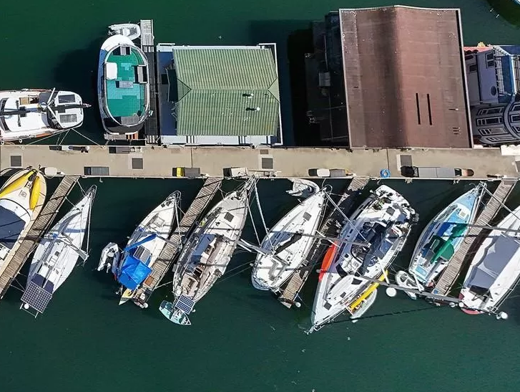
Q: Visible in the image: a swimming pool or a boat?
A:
boat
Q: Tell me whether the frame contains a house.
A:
Yes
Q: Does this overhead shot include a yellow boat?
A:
Yes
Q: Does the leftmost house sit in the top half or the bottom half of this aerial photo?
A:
top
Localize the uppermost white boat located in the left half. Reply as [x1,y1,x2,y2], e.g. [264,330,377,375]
[105,20,141,41]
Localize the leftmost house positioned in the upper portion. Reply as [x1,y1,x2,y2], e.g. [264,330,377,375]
[158,44,297,143]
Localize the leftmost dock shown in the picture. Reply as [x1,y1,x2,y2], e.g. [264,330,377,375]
[0,177,76,304]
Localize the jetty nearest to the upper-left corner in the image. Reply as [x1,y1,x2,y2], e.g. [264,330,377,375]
[138,19,155,143]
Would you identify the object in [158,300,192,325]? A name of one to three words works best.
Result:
boat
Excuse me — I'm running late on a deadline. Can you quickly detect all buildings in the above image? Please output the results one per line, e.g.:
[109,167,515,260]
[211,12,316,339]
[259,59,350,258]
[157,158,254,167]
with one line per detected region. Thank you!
[158,44,297,143]
[304,6,475,149]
